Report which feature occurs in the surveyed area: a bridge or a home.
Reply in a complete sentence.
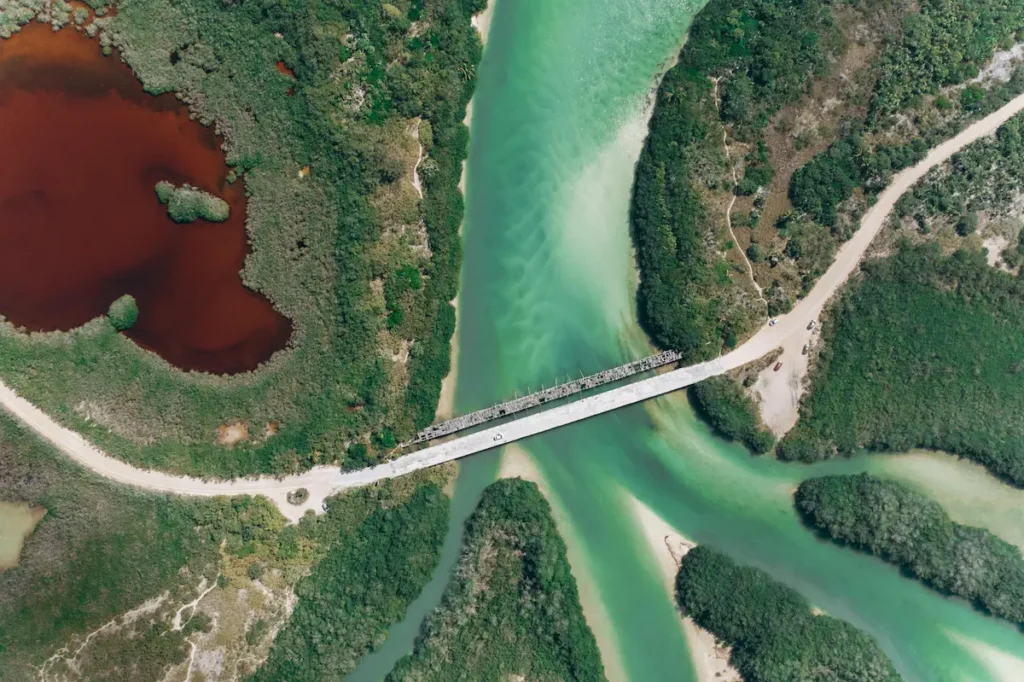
It is a bridge that can be seen here.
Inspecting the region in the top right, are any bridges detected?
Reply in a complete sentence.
No, looking in the top right, there is no bridge.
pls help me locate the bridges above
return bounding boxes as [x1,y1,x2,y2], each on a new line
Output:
[380,361,713,482]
